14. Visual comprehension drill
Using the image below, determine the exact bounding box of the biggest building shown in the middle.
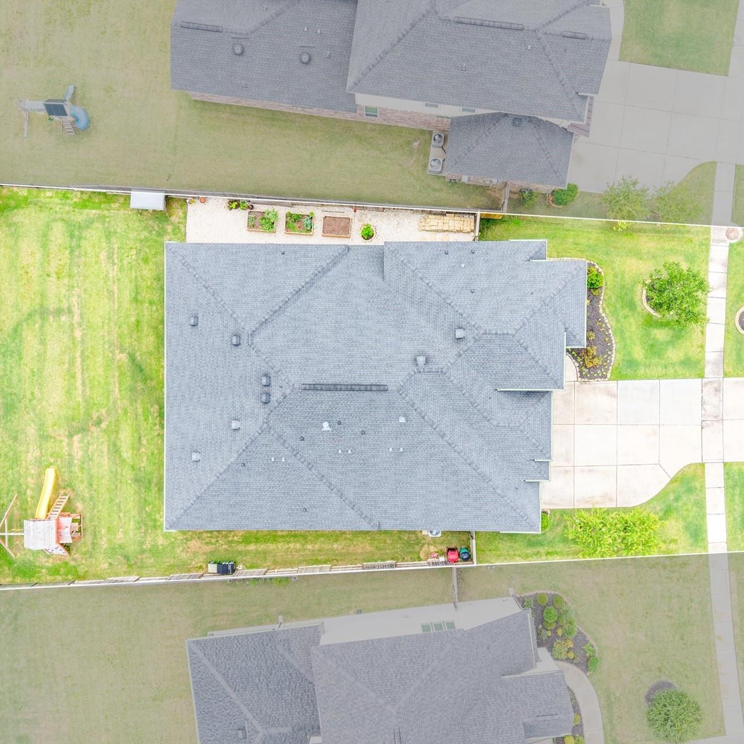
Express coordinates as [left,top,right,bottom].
[162,239,589,535]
